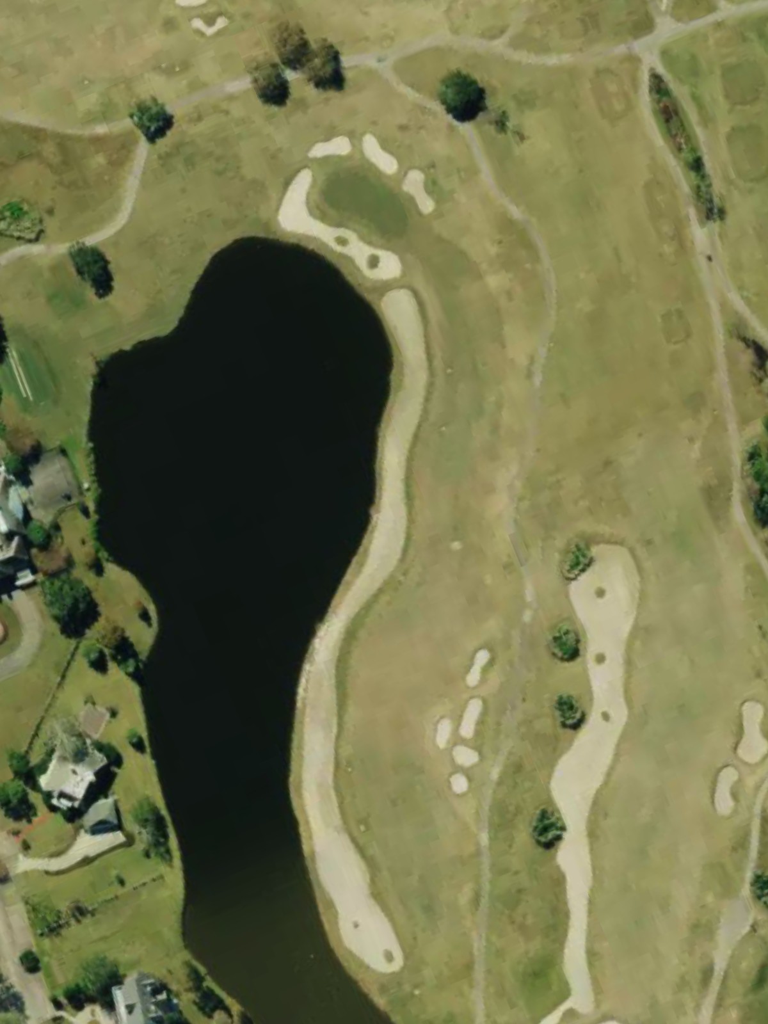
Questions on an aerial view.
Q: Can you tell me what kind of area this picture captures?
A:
golf course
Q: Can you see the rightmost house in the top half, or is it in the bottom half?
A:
bottom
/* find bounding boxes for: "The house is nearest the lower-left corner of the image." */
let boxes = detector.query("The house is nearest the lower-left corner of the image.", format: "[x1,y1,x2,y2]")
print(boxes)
[112,972,171,1024]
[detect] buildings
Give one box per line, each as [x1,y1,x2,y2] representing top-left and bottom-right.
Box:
[82,798,120,837]
[36,740,113,813]
[112,972,171,1024]
[0,456,29,560]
